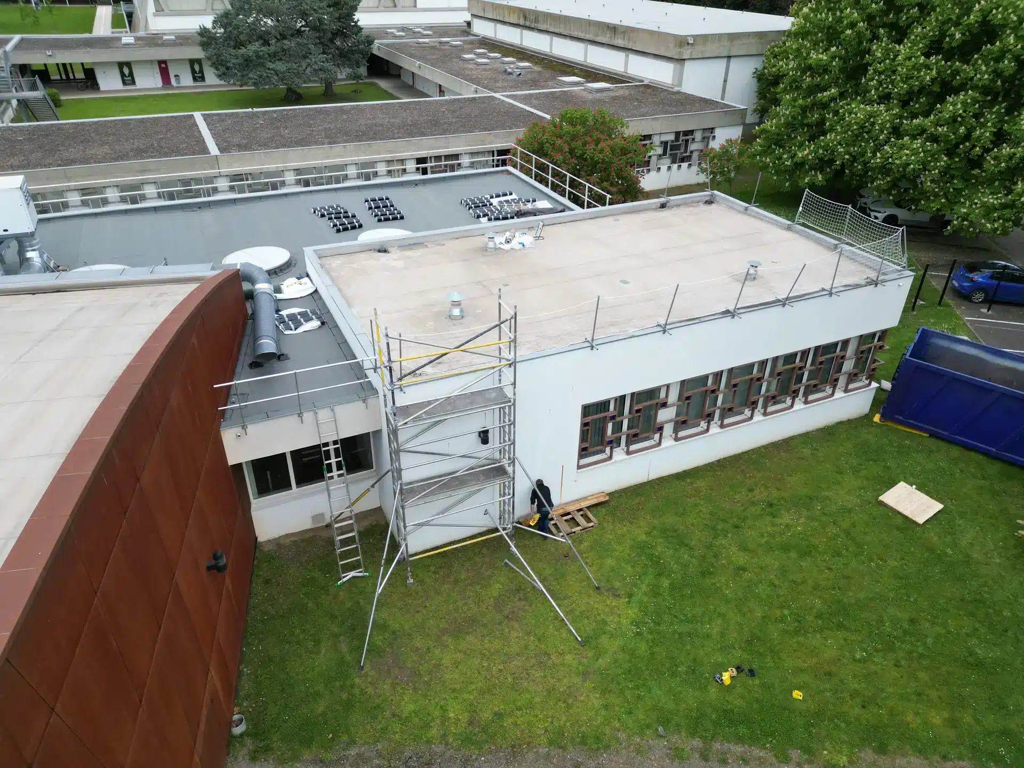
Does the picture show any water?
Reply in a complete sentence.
No, the picture contains no water.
